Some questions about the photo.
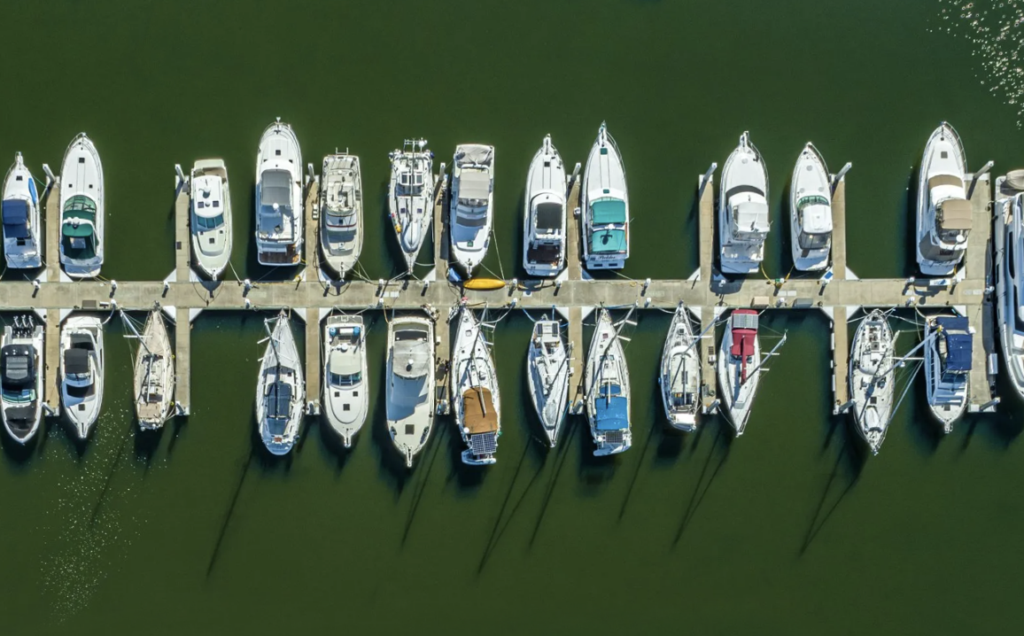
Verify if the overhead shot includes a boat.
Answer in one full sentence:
Yes, you can see a boat in this photo.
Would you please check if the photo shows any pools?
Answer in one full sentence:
No, the photo shows no pool.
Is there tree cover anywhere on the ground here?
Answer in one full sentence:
No, tree cover can't be seen anywhere here.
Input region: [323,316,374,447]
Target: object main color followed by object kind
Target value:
white boat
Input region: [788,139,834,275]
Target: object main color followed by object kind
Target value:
white boat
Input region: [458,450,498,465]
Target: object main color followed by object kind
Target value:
blue boat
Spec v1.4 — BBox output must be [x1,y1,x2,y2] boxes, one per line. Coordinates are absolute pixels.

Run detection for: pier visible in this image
[0,173,996,416]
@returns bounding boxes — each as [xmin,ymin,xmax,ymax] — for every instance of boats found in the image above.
[458,450,498,465]
[61,320,109,443]
[59,128,109,280]
[852,312,942,457]
[385,317,437,470]
[0,316,48,443]
[188,162,234,284]
[119,305,174,431]
[2,148,46,271]
[911,116,972,277]
[447,144,497,281]
[586,302,639,457]
[318,147,365,281]
[389,137,434,278]
[448,302,498,458]
[921,317,974,436]
[661,300,720,429]
[527,315,576,451]
[520,129,567,278]
[720,309,788,438]
[253,116,304,269]
[464,278,506,289]
[788,139,834,275]
[323,316,374,447]
[255,306,305,456]
[1000,170,1024,189]
[993,178,1024,415]
[714,130,771,276]
[580,119,633,272]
